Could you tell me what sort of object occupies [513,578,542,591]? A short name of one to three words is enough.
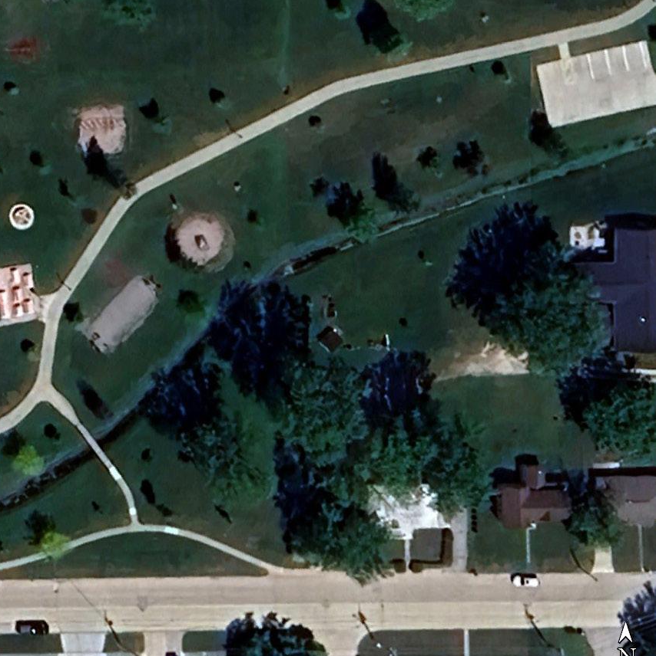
vehicle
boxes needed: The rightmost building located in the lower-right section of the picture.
[599,473,656,530]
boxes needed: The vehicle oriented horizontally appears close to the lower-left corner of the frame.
[19,624,48,637]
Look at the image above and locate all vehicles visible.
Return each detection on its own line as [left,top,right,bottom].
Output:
[19,624,48,637]
[513,578,542,591]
